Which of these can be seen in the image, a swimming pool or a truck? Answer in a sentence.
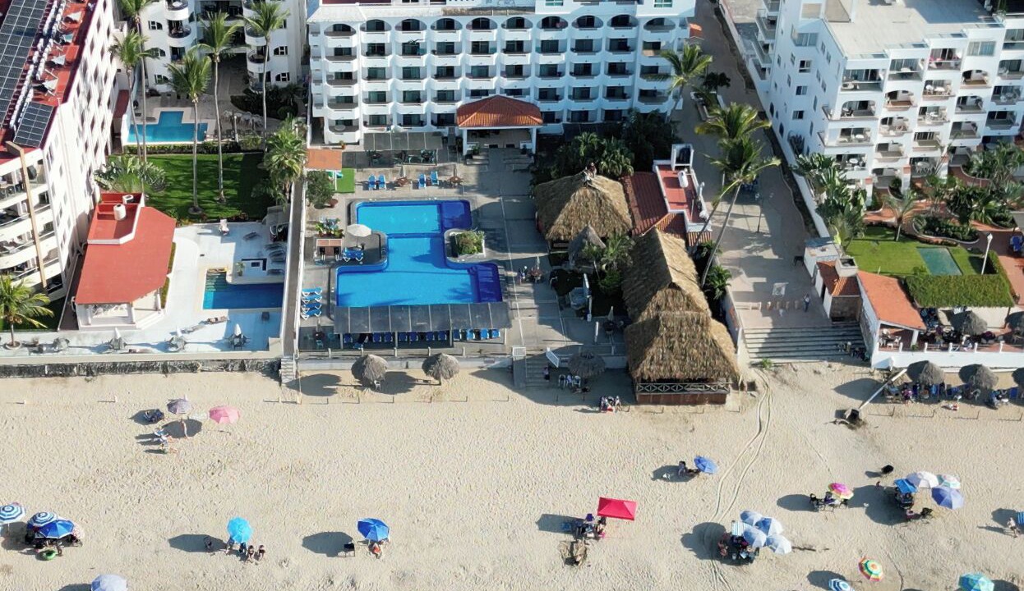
This aerial view contains a swimming pool.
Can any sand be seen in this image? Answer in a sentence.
Yes, there is sand in the image.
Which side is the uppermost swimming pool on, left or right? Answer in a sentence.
The uppermost swimming pool sits on the left side.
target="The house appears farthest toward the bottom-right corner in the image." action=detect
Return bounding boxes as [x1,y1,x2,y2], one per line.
[854,268,927,379]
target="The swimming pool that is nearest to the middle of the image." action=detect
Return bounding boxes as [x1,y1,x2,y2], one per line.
[336,200,502,307]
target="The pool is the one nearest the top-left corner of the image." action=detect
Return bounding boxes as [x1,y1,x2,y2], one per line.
[145,111,207,141]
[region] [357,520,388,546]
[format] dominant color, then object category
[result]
blue umbrella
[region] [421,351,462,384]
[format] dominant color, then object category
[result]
gray umbrella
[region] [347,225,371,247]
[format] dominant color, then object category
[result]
white umbrella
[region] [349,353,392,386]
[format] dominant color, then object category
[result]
gray umbrella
